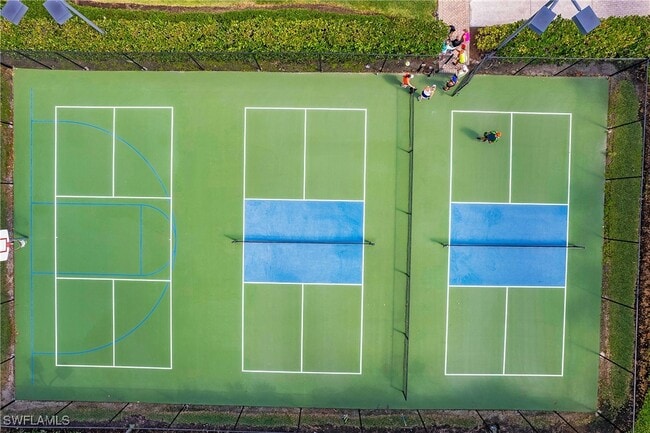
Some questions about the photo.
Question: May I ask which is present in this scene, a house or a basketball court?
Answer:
basketball court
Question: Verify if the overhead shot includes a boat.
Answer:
No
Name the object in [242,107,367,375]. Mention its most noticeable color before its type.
green sports court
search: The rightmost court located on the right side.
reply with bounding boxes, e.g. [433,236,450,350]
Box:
[445,110,572,376]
